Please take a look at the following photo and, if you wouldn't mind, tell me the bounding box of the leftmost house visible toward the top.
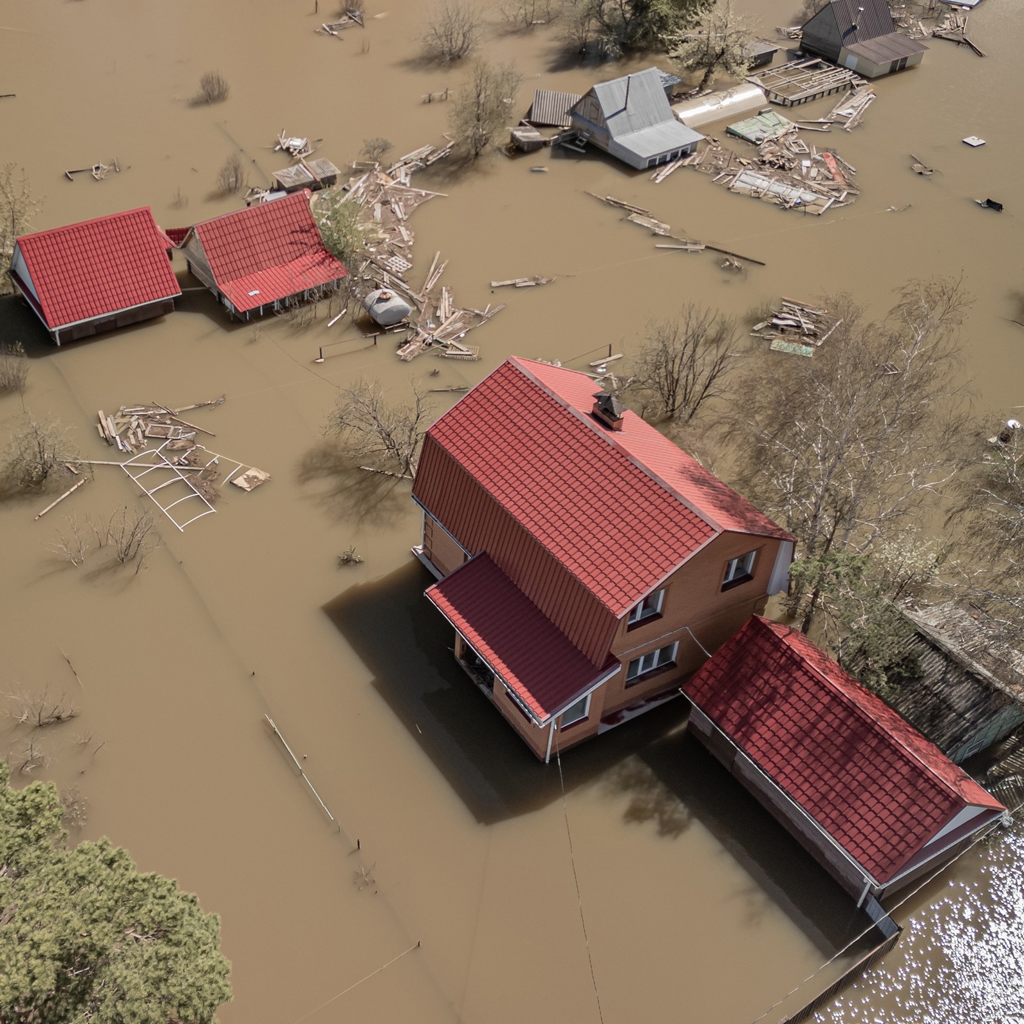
[8,205,185,345]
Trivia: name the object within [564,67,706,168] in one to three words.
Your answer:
house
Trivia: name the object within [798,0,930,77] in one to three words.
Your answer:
house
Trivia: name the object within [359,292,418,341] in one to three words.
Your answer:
water tank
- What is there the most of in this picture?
water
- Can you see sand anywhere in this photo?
No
